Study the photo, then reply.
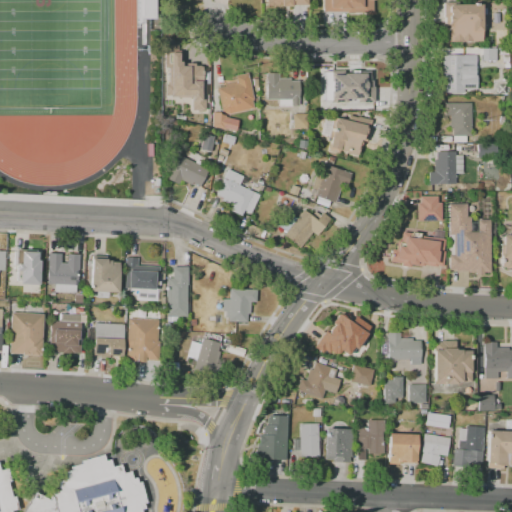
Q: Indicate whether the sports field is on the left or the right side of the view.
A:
left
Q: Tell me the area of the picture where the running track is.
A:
top left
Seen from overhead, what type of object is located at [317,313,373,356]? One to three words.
house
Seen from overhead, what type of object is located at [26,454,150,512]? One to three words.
building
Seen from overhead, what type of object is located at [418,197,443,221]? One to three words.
house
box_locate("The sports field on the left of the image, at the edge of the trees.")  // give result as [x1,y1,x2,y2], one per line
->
[0,0,115,116]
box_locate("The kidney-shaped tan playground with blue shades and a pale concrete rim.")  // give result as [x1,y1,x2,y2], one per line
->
[144,455,182,512]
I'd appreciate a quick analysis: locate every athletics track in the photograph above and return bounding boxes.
[0,0,138,186]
